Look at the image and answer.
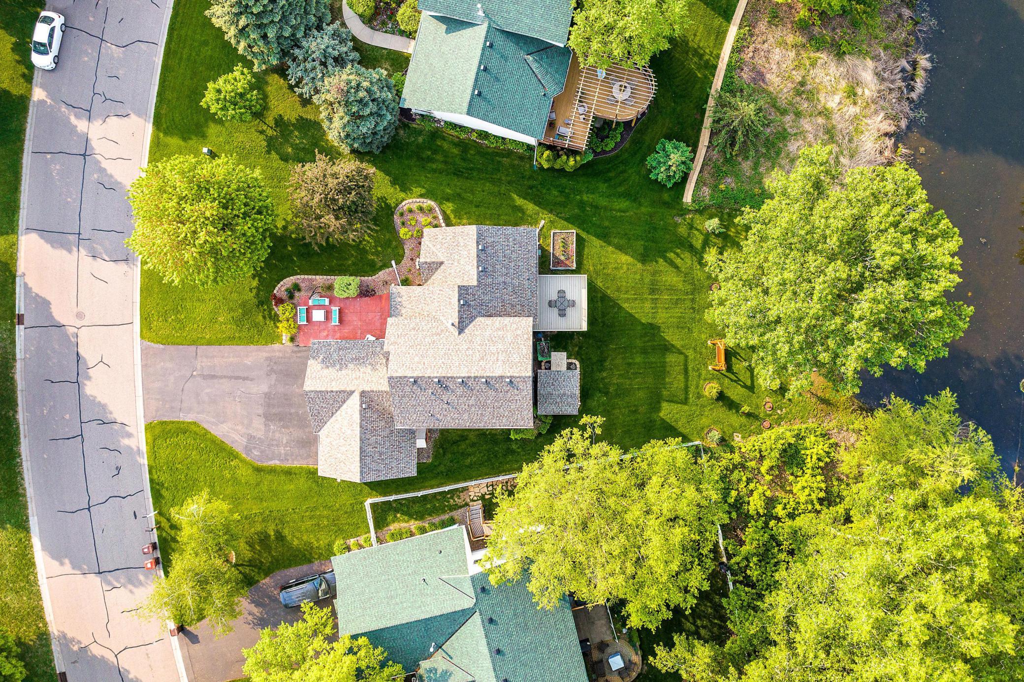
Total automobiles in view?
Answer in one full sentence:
The photo contains 2 automobiles.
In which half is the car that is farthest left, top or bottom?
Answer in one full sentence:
The top half of the photo is where the car that is farthest left is.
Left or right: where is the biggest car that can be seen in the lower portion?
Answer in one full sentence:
The biggest car that can be seen in the lower portion is on the left side of the image.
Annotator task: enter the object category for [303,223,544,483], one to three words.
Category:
house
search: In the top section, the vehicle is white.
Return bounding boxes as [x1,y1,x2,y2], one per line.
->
[30,11,69,71]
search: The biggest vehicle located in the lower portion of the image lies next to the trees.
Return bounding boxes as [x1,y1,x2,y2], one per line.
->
[278,569,335,608]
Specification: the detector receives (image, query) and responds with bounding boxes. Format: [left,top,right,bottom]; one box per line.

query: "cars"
[278,569,335,608]
[30,11,69,71]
